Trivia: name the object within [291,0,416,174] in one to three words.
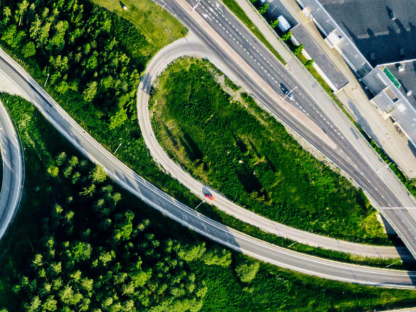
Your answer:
building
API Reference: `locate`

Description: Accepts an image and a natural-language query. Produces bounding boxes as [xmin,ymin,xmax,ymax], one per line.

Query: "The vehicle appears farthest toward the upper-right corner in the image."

[277,11,292,32]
